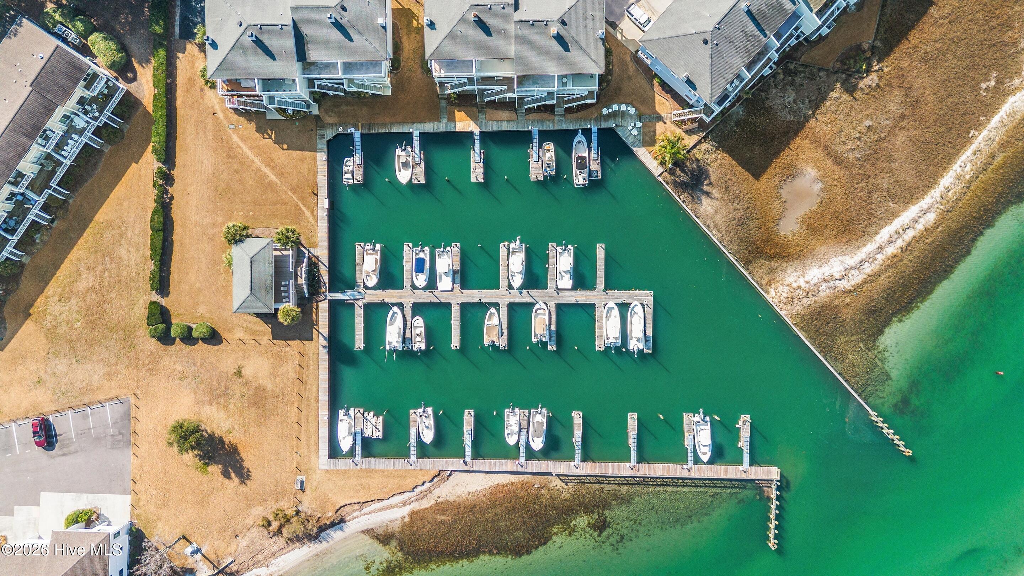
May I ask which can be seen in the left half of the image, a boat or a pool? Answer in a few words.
boat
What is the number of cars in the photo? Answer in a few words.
two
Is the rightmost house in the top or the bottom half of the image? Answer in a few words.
top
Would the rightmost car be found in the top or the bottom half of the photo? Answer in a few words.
top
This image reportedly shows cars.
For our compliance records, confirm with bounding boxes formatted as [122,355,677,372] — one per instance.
[628,2,656,31]
[29,415,49,447]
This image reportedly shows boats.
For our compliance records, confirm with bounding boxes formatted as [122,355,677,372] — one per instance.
[419,398,435,445]
[362,238,381,287]
[386,306,403,359]
[436,240,453,290]
[509,235,525,288]
[343,158,353,192]
[413,240,429,288]
[505,399,519,446]
[573,130,589,188]
[695,406,712,463]
[412,316,425,358]
[604,302,621,357]
[532,302,548,350]
[336,401,354,454]
[542,142,555,184]
[557,238,573,288]
[628,302,644,360]
[396,138,413,184]
[484,308,500,353]
[530,401,546,451]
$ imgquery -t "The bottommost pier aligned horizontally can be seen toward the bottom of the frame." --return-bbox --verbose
[319,456,782,481]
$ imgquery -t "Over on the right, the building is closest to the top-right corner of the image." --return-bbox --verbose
[633,0,851,127]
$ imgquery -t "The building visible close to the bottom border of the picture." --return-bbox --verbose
[0,508,132,576]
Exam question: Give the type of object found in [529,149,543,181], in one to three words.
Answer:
pier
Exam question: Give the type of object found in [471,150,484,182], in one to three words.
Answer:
pier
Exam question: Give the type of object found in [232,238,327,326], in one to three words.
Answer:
building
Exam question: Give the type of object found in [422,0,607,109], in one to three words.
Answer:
house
